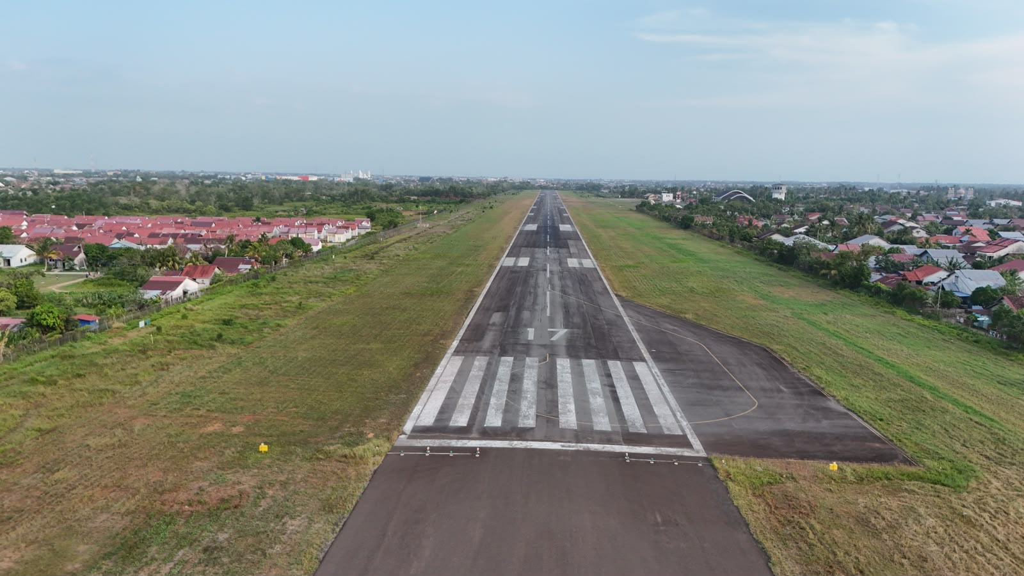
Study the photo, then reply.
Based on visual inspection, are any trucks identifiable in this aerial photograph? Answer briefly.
No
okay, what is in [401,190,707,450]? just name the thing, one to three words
runway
